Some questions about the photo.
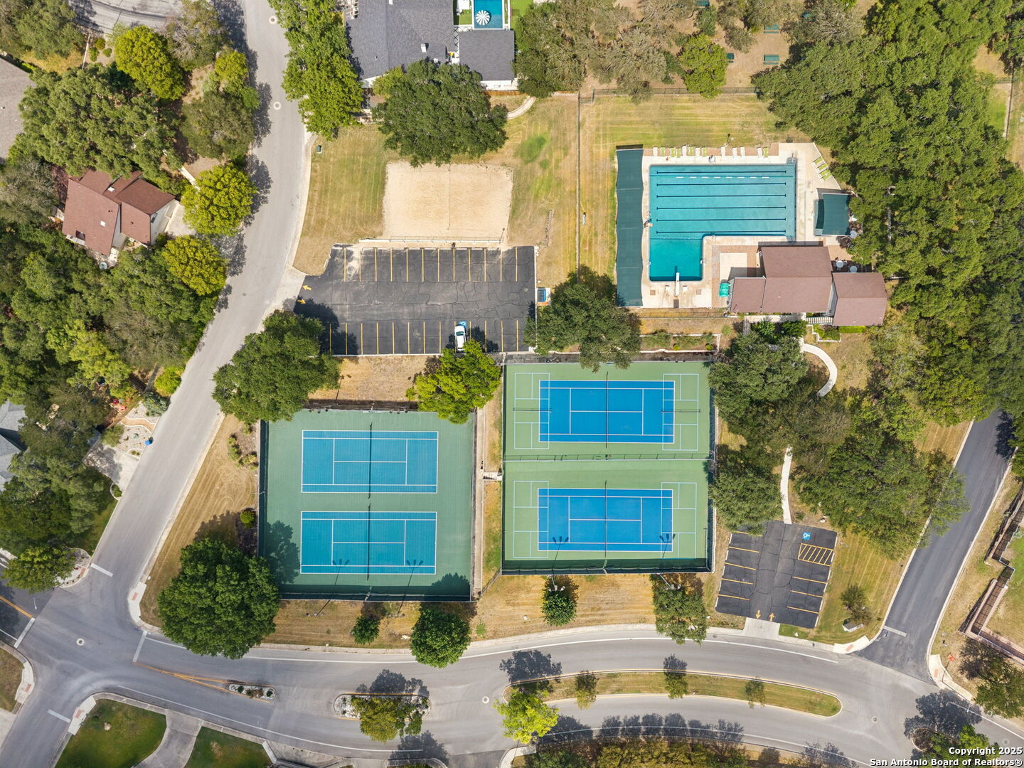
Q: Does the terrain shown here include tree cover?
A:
Yes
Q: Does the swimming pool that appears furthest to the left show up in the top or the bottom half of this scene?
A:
top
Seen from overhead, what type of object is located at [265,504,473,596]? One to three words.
tennis court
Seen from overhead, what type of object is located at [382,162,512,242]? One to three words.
sports court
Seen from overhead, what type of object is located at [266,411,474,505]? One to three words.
tennis court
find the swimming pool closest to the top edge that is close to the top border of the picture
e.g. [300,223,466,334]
[472,0,505,30]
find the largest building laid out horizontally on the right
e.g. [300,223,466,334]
[728,246,887,326]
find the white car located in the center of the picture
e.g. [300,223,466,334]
[454,325,467,351]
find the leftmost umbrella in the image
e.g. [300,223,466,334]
[476,11,490,26]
